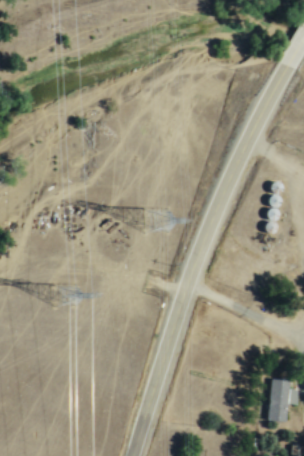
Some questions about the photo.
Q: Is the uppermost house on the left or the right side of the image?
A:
right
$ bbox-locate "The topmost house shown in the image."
[267,378,300,421]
